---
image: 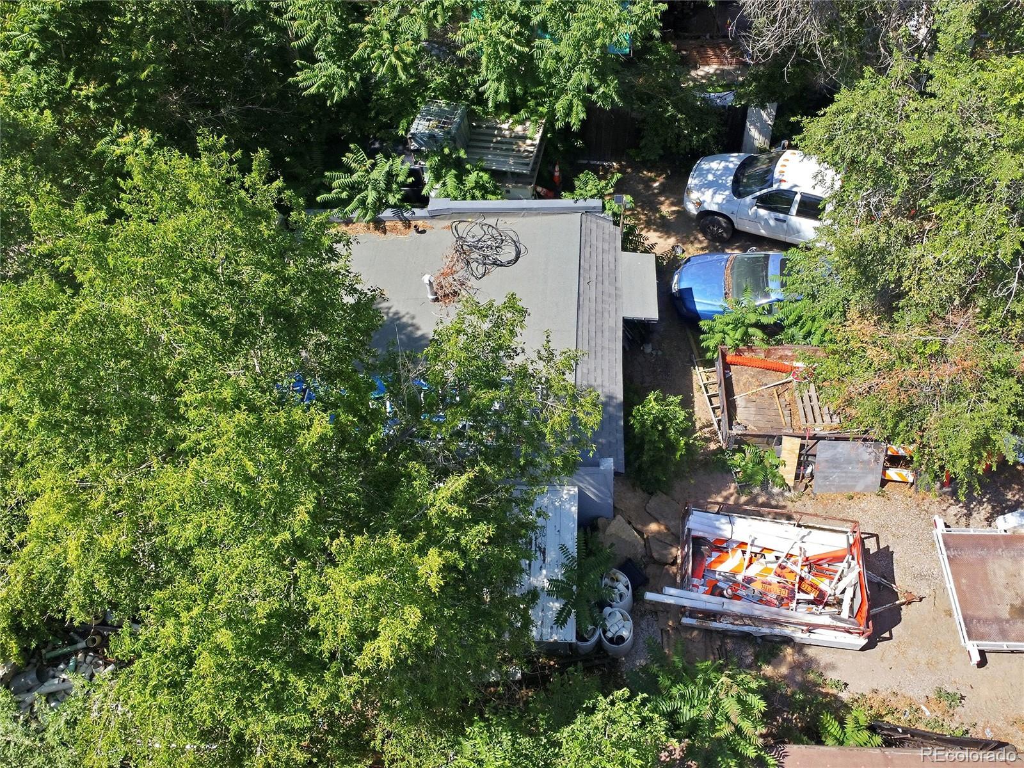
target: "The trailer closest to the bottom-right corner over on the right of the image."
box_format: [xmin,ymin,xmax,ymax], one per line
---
[932,515,1024,665]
